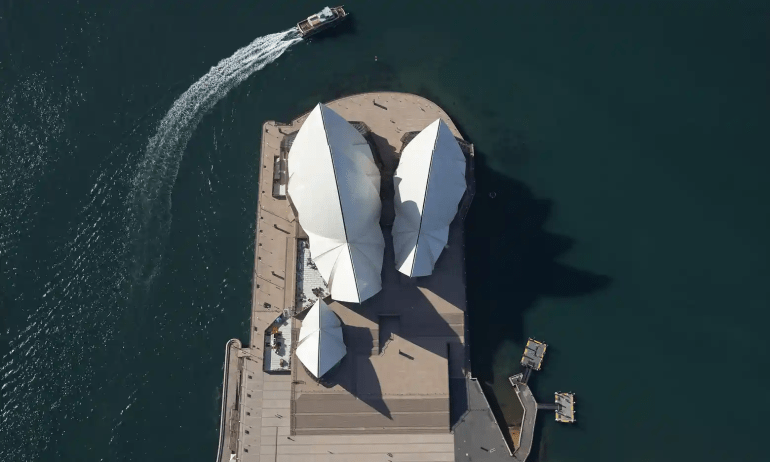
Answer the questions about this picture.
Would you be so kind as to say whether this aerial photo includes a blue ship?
No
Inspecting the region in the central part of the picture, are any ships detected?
No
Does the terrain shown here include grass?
No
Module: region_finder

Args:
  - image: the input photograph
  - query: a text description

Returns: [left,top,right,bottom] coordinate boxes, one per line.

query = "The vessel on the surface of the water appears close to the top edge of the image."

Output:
[295,2,350,38]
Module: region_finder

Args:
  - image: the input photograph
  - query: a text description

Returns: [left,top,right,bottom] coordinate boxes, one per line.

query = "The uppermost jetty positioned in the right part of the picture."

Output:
[521,339,547,368]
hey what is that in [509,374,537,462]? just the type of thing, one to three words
pier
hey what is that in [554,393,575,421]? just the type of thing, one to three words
pier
